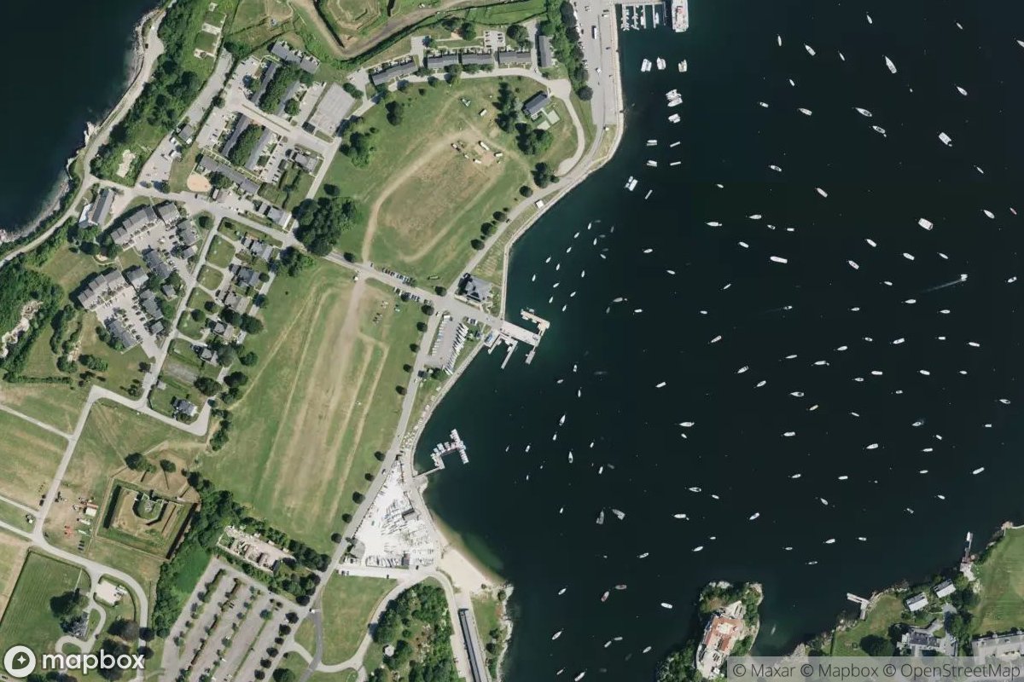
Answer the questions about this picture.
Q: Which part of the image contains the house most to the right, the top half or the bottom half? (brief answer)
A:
bottom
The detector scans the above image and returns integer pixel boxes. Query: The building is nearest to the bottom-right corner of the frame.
[972,630,1024,676]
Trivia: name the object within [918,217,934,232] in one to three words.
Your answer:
boat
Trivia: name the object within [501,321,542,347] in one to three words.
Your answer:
pier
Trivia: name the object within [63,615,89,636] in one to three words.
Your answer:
house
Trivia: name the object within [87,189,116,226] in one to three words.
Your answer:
building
